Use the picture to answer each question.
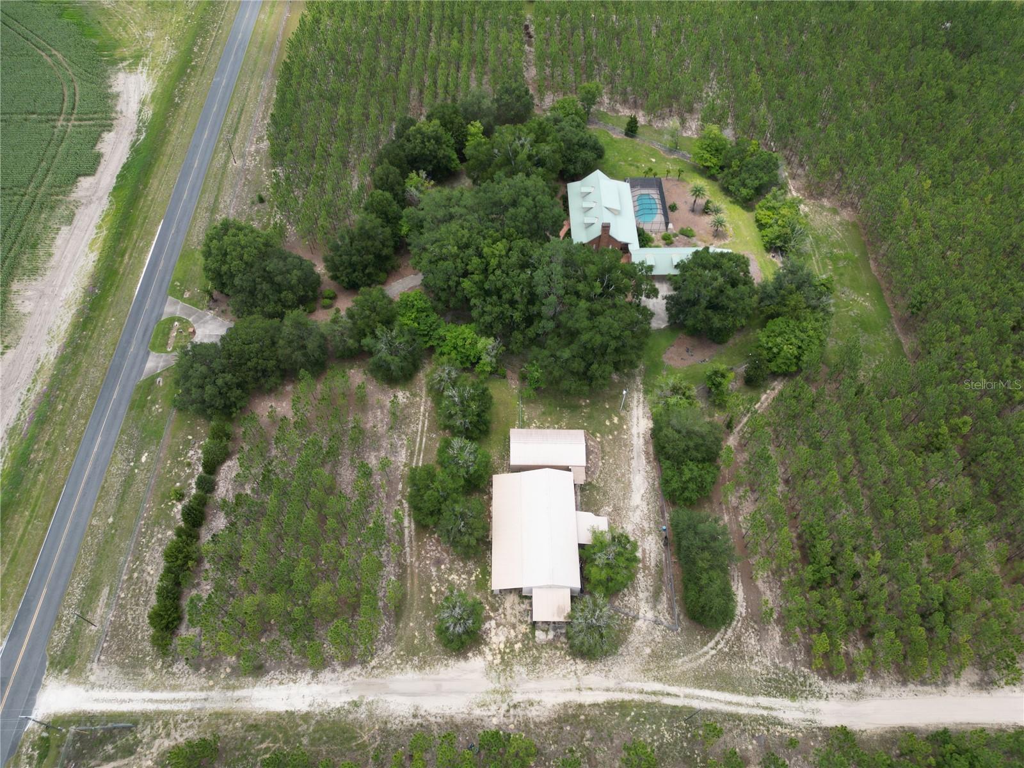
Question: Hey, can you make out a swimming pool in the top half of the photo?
Yes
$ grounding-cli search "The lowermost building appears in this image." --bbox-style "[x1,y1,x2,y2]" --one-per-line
[492,469,608,626]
